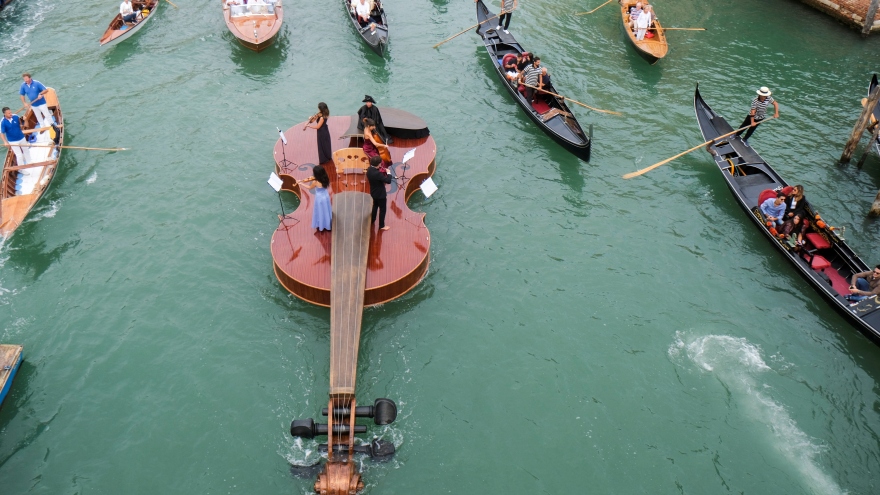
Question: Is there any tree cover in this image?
No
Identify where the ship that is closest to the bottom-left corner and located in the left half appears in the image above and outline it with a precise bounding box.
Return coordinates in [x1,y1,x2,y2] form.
[0,345,29,412]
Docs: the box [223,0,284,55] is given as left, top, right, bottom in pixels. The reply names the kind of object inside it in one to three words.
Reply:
boat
